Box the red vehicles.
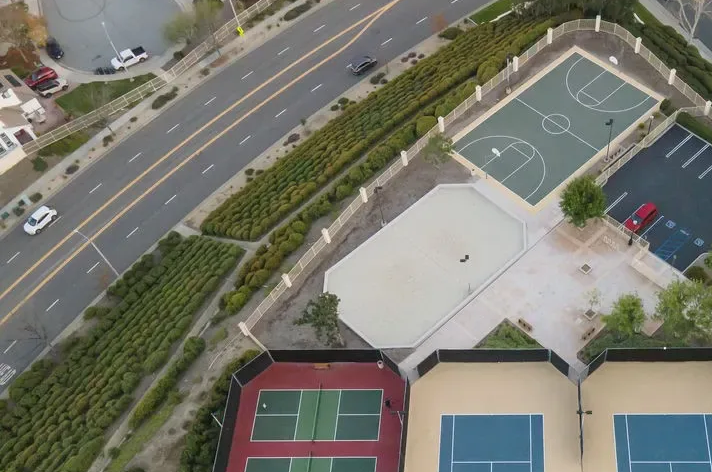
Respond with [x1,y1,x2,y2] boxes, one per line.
[626,201,660,230]
[23,64,56,86]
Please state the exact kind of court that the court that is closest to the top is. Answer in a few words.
basketball court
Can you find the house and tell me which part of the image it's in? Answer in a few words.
top left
